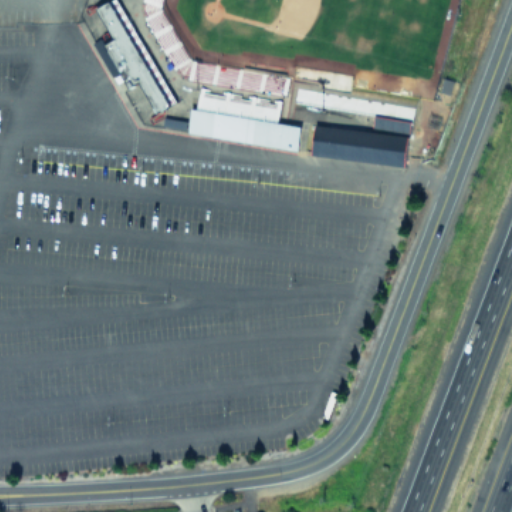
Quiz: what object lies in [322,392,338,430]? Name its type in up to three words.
vehicle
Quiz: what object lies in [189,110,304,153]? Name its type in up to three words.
building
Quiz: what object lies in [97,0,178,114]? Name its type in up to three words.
building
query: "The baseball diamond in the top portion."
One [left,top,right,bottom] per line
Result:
[164,0,460,99]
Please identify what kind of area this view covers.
parking lot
